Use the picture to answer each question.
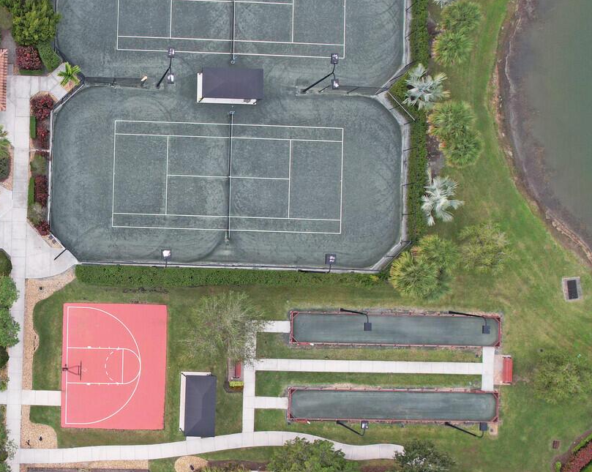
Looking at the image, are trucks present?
No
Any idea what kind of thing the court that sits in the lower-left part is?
basketball court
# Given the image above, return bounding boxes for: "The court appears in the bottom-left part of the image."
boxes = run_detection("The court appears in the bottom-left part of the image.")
[61,303,167,430]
